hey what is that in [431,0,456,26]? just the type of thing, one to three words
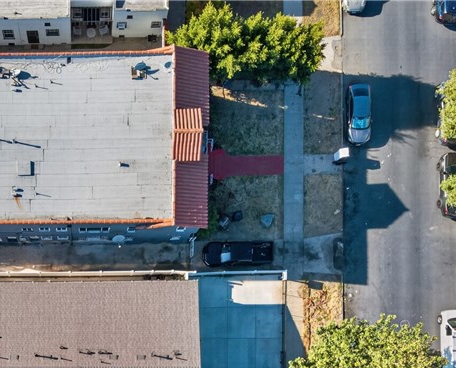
car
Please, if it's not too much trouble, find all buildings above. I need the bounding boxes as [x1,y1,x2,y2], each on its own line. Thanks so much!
[0,278,203,368]
[0,0,167,45]
[0,36,218,246]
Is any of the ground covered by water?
No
